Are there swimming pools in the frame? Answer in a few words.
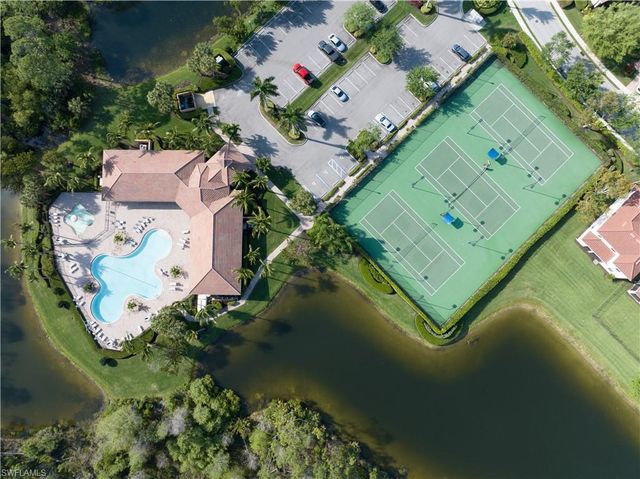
Yes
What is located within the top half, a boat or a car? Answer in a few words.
car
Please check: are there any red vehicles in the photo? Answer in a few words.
Yes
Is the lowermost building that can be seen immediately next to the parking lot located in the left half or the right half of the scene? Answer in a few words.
left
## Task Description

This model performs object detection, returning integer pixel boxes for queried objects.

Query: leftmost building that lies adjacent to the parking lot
[101,142,254,295]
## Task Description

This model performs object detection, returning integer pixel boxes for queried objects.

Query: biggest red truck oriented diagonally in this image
[292,63,314,86]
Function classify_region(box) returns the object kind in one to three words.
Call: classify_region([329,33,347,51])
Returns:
car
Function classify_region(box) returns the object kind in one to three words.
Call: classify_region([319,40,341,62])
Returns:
truck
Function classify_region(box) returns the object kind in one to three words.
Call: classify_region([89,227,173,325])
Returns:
swimming pool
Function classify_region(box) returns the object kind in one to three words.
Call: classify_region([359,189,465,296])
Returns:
tennis court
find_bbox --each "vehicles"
[308,109,326,127]
[319,40,341,62]
[452,43,472,61]
[369,0,387,12]
[329,33,347,51]
[292,63,314,86]
[330,84,349,102]
[377,115,396,133]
